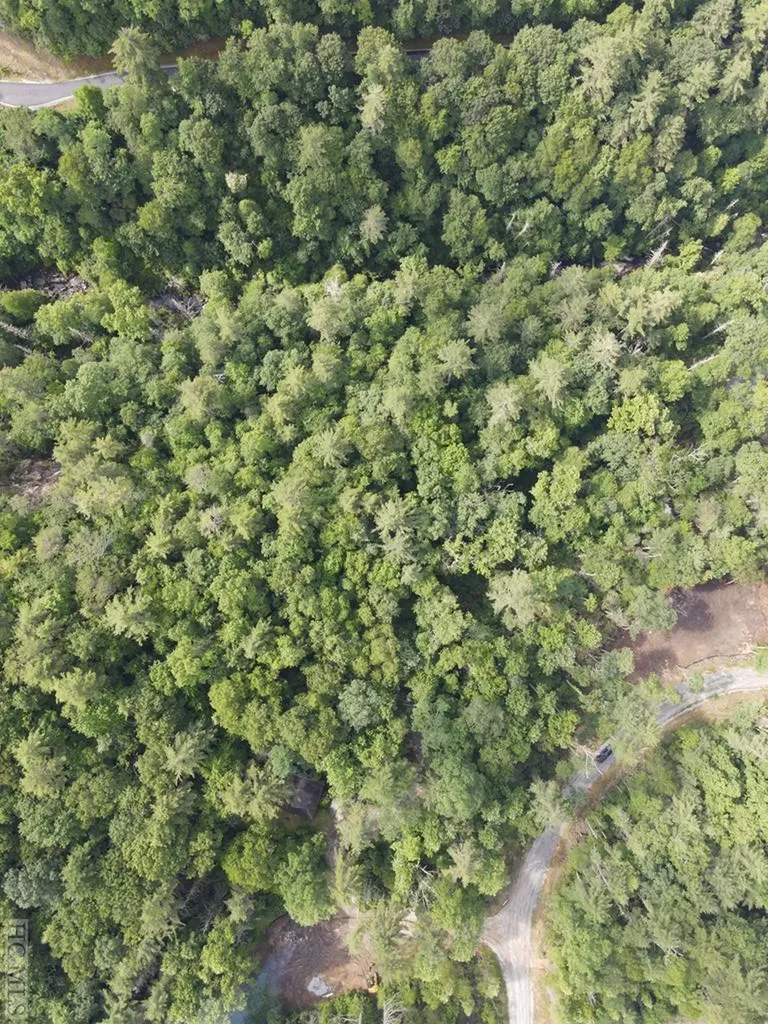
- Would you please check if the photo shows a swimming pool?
No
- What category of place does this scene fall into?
forest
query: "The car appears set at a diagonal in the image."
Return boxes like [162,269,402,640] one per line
[595,743,613,763]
